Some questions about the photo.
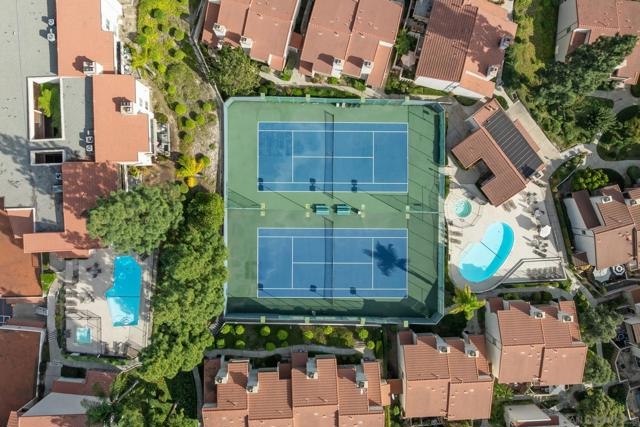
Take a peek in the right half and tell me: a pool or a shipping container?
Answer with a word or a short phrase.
pool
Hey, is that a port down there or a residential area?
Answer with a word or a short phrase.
residential area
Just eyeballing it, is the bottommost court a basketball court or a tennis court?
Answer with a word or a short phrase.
tennis court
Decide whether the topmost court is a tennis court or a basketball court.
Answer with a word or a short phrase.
tennis court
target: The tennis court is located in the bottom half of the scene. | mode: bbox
[229,209,438,317]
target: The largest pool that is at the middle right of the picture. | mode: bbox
[458,220,517,284]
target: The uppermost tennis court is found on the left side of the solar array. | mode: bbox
[229,102,438,209]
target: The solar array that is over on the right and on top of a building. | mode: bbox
[484,110,544,181]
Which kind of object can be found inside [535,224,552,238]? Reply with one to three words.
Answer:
umbrella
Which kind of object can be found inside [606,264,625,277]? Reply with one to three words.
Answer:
umbrella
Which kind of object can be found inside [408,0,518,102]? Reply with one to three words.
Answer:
house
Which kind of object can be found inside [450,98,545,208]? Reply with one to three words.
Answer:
building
